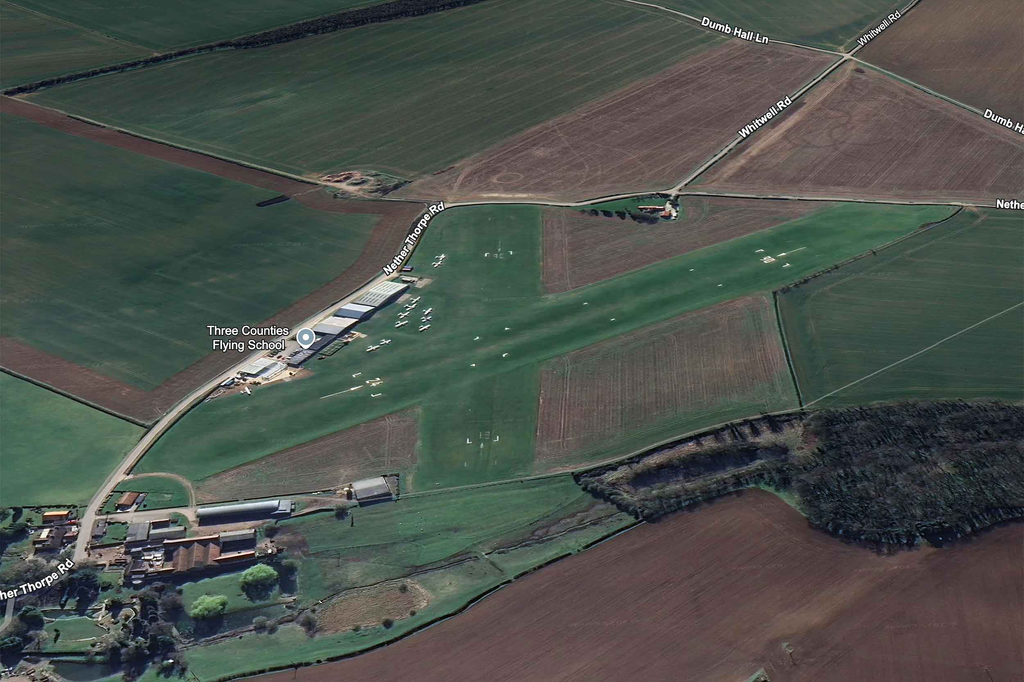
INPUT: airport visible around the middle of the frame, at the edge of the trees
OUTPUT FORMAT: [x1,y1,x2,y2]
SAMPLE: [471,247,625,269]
[132,196,960,502]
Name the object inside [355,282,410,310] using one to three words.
hangar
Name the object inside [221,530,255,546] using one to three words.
barn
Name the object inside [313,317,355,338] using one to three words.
hangar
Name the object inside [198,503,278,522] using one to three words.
barn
